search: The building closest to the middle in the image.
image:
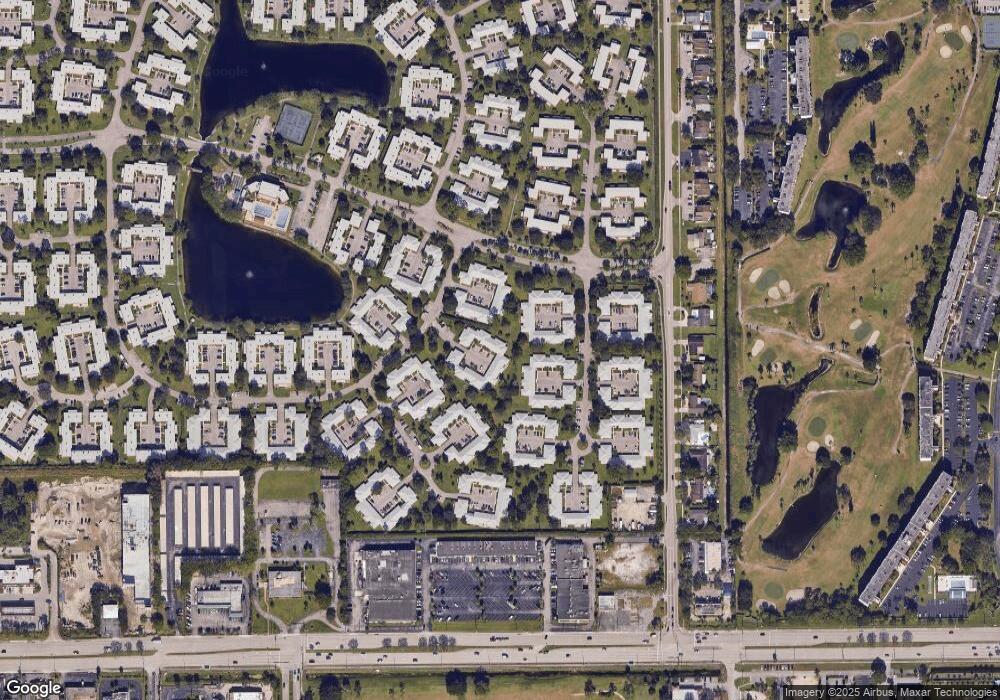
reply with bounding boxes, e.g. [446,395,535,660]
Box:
[443,326,509,389]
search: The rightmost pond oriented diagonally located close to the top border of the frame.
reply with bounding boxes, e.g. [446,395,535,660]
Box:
[819,31,903,154]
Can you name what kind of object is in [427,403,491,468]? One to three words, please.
building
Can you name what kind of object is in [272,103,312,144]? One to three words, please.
tennis court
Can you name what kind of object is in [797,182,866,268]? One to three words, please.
pond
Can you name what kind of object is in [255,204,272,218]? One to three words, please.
swimming pool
